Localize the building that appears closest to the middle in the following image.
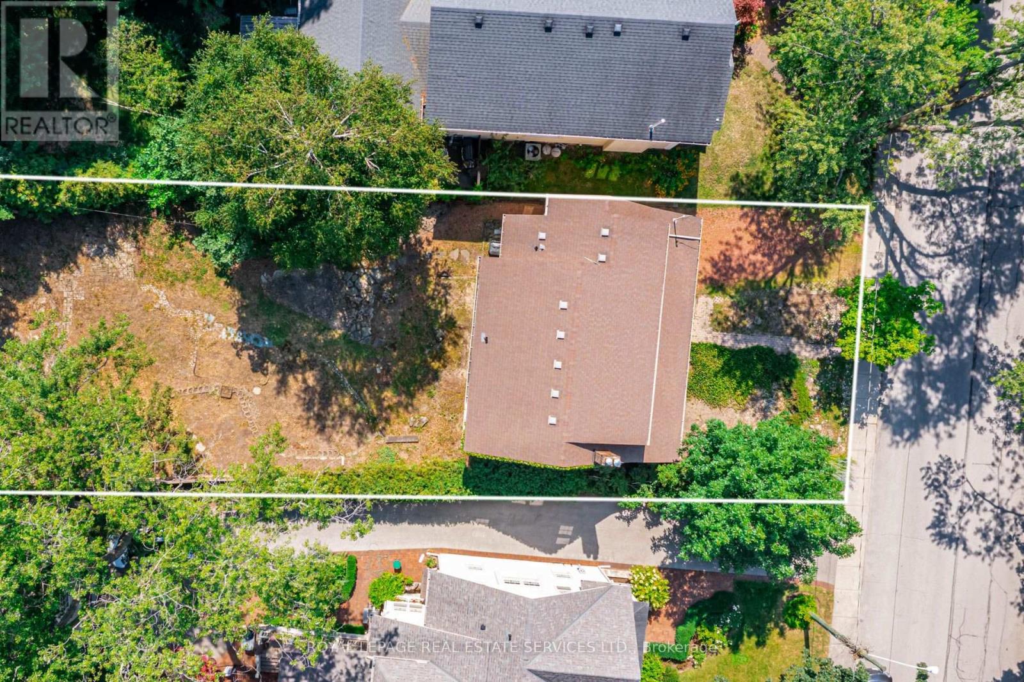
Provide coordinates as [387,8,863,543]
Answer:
[464,196,703,470]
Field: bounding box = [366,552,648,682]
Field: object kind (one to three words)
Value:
house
